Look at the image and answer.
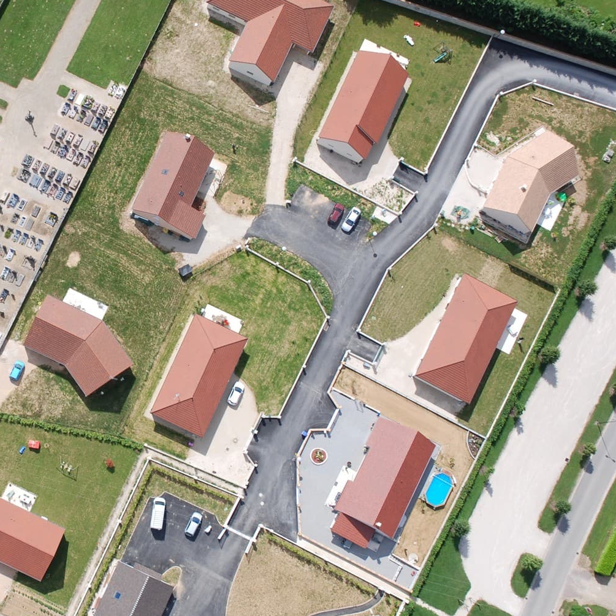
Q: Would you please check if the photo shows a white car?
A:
Yes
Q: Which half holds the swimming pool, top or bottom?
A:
bottom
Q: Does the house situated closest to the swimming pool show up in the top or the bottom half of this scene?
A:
bottom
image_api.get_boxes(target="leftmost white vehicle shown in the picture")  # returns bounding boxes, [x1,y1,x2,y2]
[151,498,167,531]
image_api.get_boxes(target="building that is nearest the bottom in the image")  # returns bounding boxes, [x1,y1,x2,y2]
[95,562,174,616]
